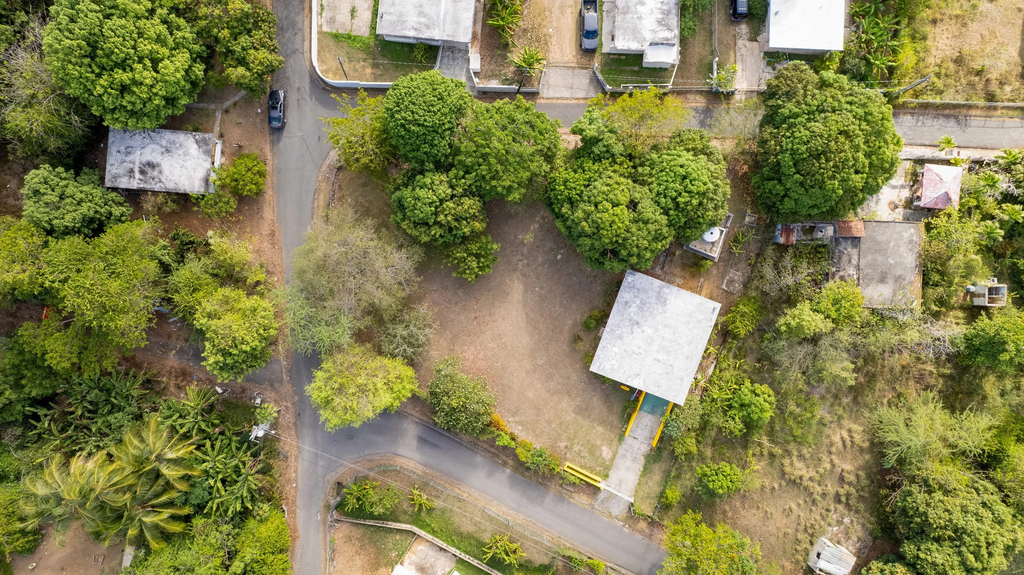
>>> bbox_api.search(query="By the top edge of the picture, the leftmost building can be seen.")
[376,0,475,52]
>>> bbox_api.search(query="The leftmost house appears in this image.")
[106,128,223,204]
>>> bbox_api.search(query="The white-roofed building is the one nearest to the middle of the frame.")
[590,270,721,405]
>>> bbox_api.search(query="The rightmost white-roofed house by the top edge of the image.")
[760,0,844,62]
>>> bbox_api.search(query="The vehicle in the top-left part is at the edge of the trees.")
[265,88,285,128]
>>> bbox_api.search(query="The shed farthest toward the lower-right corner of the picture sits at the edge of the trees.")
[801,532,860,575]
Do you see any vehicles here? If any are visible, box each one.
[265,88,285,128]
[579,0,601,49]
[730,0,749,22]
